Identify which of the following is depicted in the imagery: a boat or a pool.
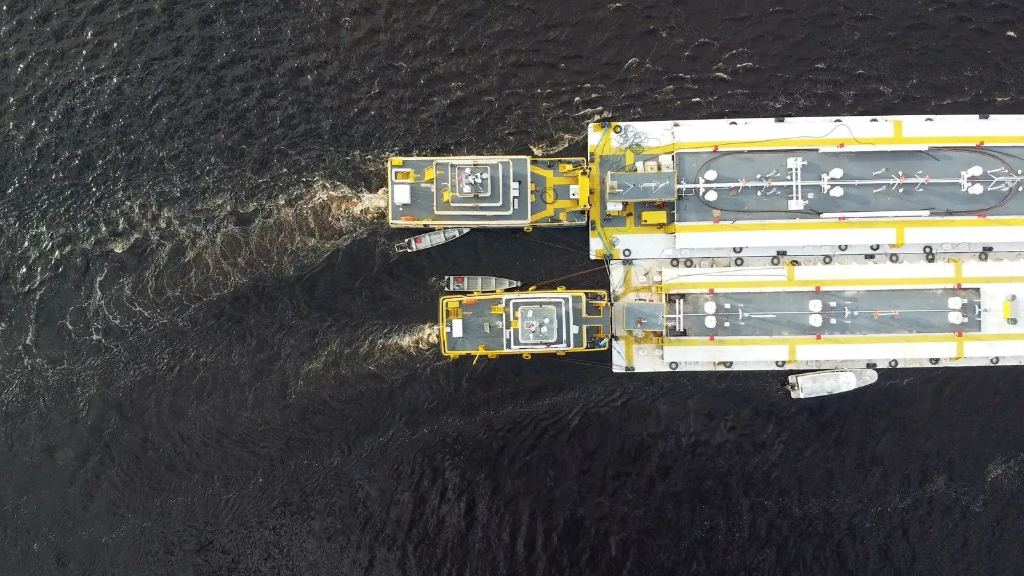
boat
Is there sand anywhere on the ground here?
No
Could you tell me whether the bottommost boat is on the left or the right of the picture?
right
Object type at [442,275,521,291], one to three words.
boat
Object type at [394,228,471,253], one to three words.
boat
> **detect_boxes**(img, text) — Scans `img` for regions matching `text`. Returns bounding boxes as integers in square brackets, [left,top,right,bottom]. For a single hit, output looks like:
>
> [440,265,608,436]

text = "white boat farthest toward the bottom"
[785,367,878,398]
